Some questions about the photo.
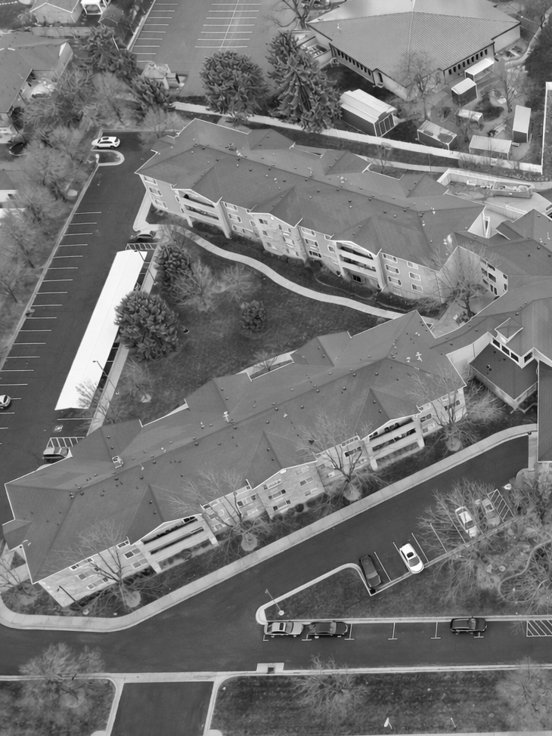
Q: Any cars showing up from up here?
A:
Yes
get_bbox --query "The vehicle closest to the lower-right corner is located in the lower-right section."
[450,616,489,635]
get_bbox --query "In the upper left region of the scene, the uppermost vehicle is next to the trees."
[92,136,119,149]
